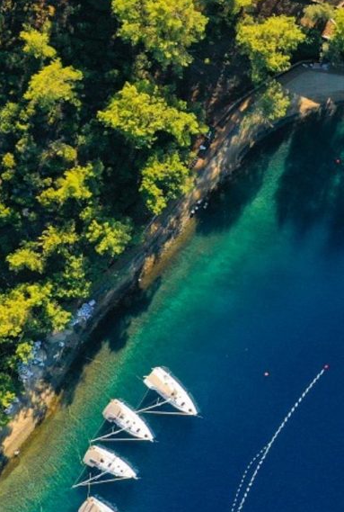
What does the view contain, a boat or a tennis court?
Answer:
boat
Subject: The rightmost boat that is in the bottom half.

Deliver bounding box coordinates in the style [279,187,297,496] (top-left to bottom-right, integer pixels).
[130,357,195,416]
